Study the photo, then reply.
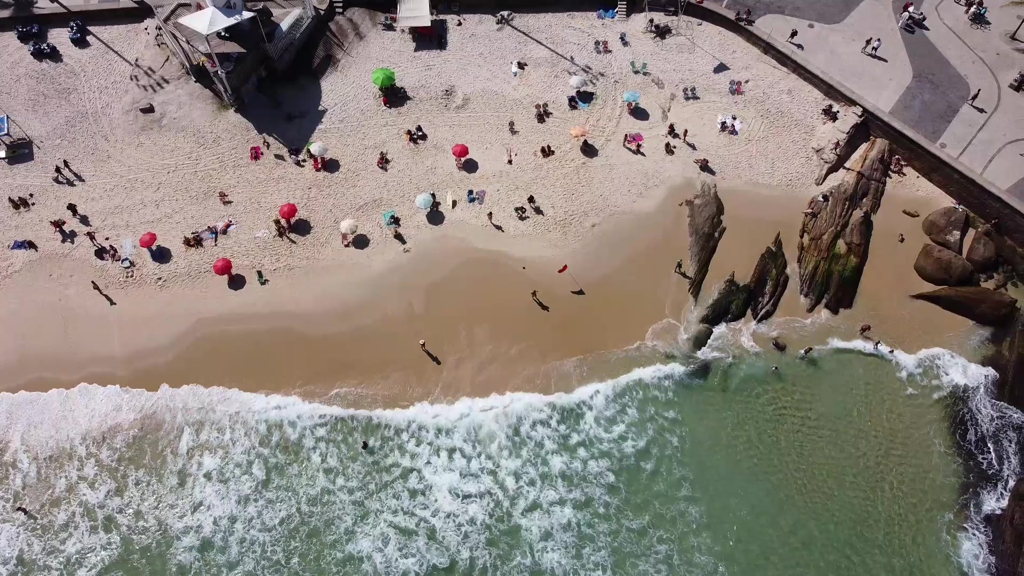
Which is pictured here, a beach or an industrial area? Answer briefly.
beach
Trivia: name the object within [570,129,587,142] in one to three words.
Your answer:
umbrella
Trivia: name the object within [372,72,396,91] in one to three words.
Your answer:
umbrella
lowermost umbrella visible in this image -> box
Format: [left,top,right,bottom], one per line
[213,259,235,278]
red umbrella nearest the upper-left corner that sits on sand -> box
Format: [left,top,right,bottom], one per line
[140,235,159,251]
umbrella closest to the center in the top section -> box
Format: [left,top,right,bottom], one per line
[415,196,434,213]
